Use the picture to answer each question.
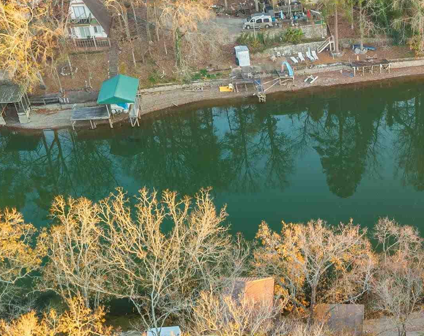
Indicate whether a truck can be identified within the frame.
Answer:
No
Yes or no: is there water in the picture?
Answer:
Yes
